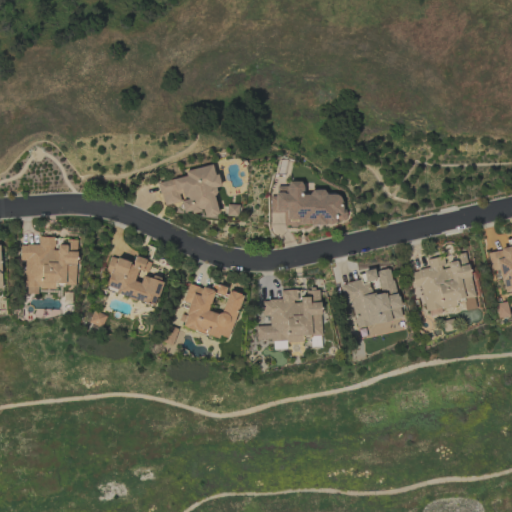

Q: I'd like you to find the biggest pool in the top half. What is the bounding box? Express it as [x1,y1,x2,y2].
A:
[228,164,244,188]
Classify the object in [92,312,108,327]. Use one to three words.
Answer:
gazebo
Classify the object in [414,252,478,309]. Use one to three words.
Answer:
house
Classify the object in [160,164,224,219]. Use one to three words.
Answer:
house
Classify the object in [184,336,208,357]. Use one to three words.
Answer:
swimming pool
